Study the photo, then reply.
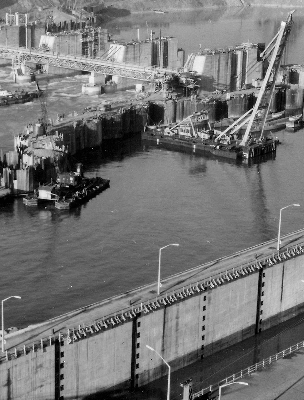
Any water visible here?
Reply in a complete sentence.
Yes, water shows up in the scene.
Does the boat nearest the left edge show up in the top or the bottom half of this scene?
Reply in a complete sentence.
You can find the boat nearest the left edge in the top half.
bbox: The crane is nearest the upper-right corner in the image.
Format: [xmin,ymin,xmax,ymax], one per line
[141,4,299,159]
